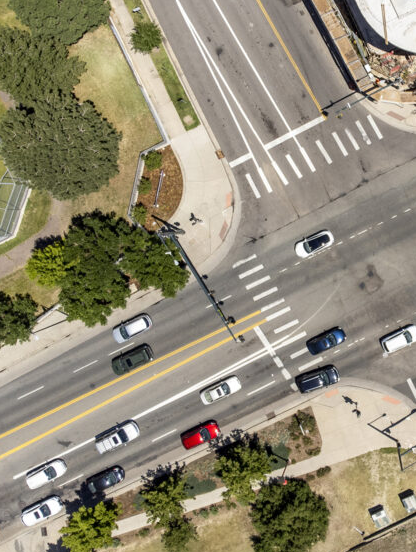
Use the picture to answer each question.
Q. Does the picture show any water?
No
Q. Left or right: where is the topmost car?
right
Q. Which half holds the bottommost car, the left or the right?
left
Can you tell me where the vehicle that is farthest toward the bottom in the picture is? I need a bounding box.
[21,494,64,525]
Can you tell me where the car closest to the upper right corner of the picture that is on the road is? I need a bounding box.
[295,229,336,257]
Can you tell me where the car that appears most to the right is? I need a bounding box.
[380,323,416,353]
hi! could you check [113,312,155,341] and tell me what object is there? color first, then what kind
white car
